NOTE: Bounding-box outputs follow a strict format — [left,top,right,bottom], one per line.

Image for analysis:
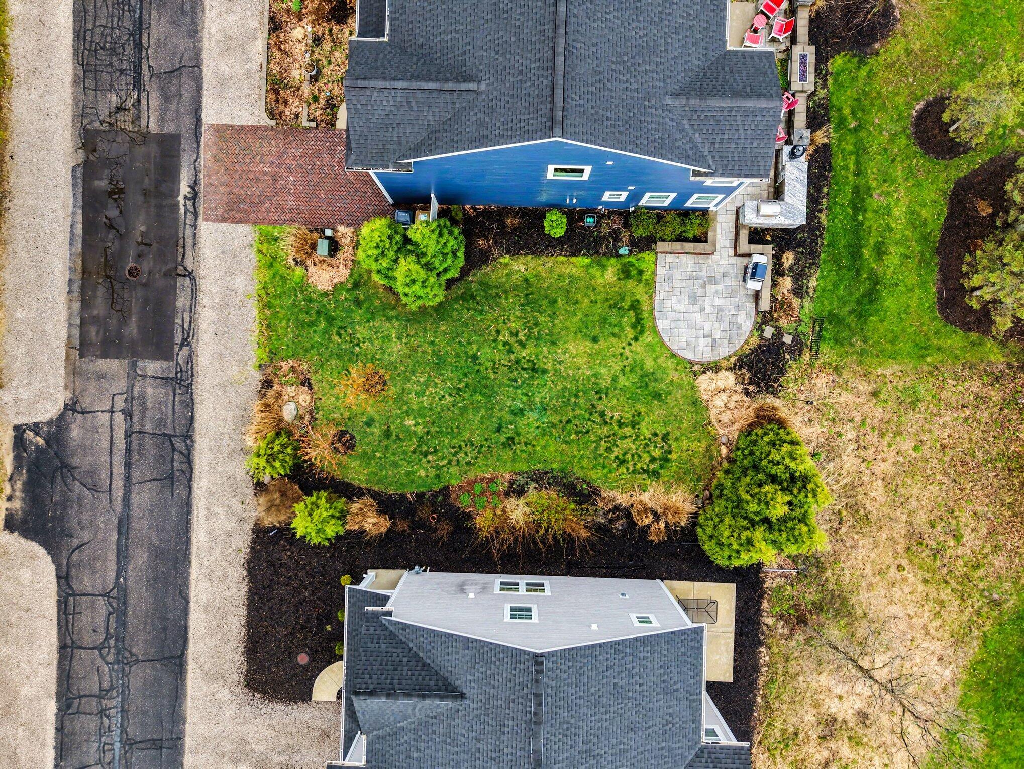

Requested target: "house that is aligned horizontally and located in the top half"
[345,0,783,214]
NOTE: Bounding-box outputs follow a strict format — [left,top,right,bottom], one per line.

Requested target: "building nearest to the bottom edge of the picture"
[326,570,753,769]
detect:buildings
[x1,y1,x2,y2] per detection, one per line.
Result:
[345,0,783,214]
[326,570,753,769]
